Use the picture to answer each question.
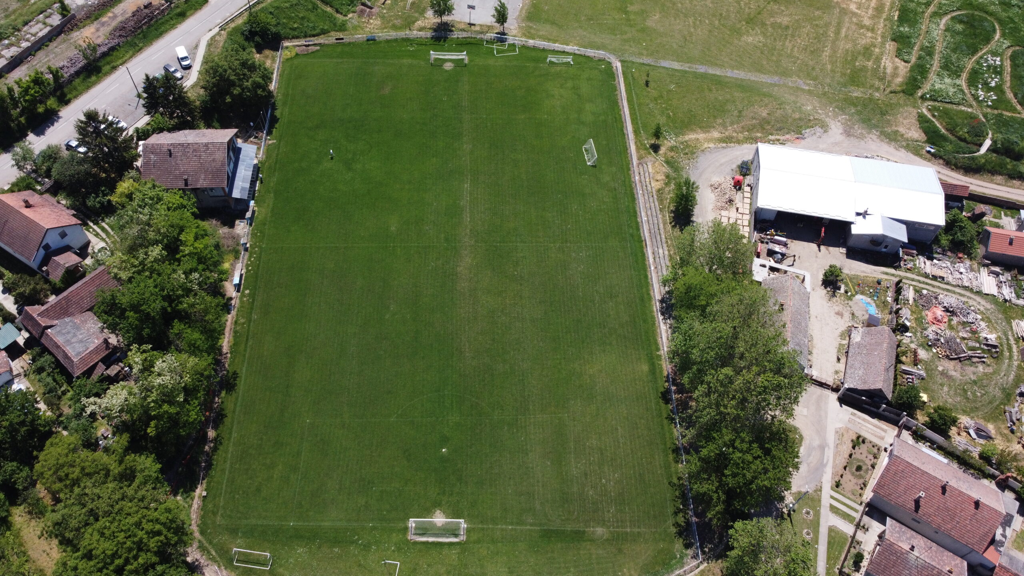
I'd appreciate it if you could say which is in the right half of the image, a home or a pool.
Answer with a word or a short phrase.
home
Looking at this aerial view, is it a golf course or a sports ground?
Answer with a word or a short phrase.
sports ground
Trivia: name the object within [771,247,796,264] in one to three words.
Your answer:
work vehicle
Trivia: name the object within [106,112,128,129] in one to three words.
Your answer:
car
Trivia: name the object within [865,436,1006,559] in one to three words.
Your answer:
house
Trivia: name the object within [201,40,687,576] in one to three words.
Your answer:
soccer field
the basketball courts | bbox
[428,0,520,28]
